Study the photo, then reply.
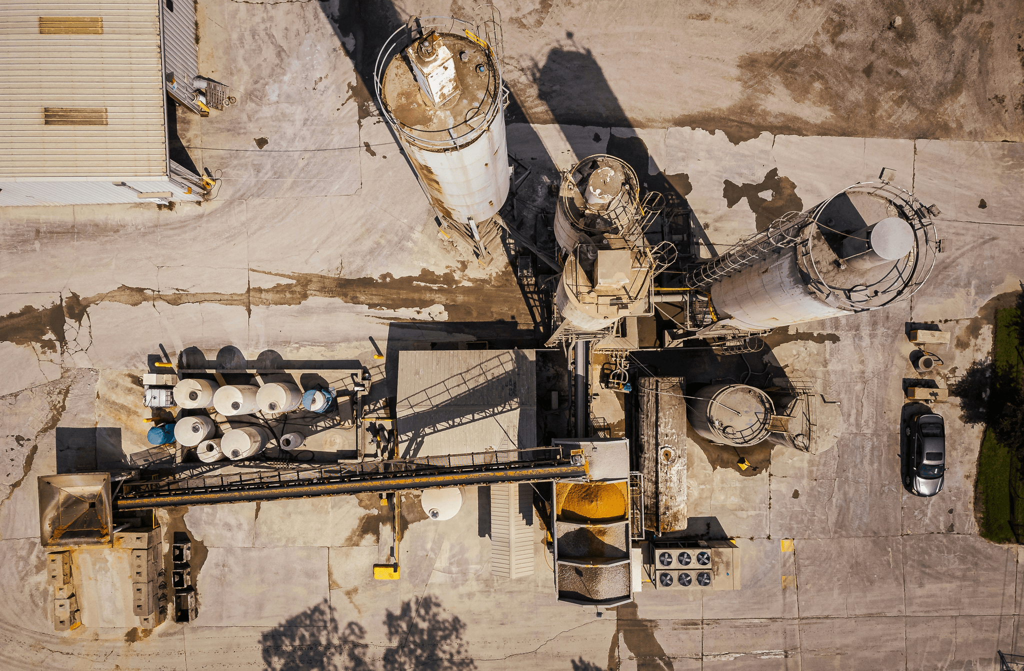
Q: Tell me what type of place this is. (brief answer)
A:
industrial area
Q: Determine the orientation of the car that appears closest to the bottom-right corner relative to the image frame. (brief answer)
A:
up and down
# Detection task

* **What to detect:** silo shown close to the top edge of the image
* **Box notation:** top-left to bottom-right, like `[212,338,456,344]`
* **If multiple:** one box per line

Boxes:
[381,5,529,261]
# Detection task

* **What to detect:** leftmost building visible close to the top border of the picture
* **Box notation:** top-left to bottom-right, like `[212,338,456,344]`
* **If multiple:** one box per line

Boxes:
[0,0,204,199]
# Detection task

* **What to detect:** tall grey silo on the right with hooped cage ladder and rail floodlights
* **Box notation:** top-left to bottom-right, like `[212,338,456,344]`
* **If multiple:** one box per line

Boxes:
[670,180,940,371]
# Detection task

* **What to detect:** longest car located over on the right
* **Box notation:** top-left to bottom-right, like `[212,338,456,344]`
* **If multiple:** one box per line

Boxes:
[905,413,949,498]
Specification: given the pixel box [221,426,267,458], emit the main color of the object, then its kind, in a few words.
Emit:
white storage tank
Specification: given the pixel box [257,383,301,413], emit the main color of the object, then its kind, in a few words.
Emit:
white storage tank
